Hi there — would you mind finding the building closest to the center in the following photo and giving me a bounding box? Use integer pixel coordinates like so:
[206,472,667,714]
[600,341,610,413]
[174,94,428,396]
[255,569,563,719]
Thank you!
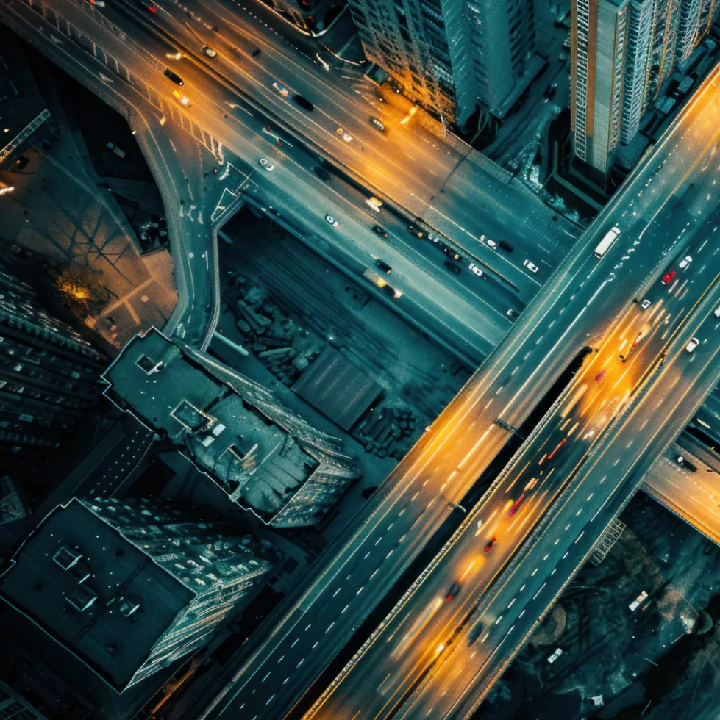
[291,348,388,431]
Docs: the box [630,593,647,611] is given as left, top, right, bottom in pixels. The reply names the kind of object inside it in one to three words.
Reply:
vehicle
